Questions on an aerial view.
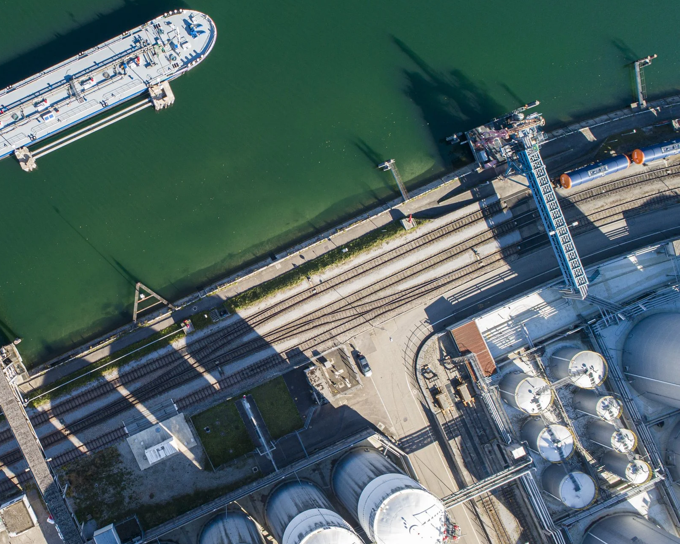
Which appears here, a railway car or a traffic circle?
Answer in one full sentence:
Of the two, only a railway car appears.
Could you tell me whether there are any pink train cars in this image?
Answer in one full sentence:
No, no pink train car can be seen from above.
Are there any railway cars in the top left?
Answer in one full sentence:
No, I can find no railway car in the top left.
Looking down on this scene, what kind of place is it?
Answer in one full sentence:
What you see here is an industrial area.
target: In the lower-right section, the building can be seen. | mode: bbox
[499,440,540,469]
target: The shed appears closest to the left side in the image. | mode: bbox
[0,495,37,538]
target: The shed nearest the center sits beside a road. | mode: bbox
[303,363,335,407]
